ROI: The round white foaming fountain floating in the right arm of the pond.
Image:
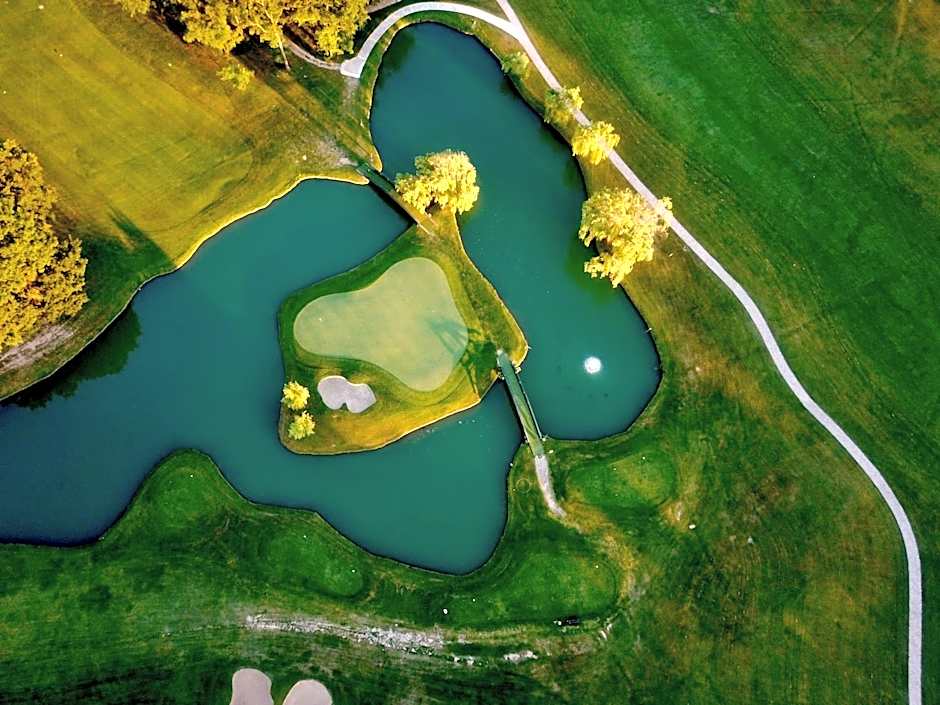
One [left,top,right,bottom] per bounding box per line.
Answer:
[580,354,604,375]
